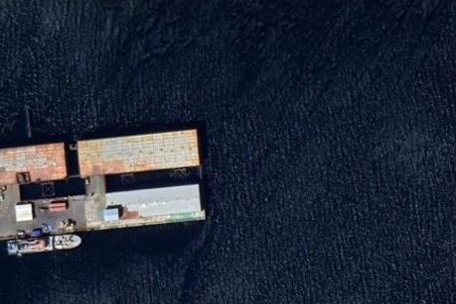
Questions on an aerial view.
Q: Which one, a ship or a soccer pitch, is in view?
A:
ship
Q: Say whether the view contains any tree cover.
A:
No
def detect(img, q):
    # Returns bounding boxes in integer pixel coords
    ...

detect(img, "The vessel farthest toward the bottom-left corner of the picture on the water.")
[7,236,83,258]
